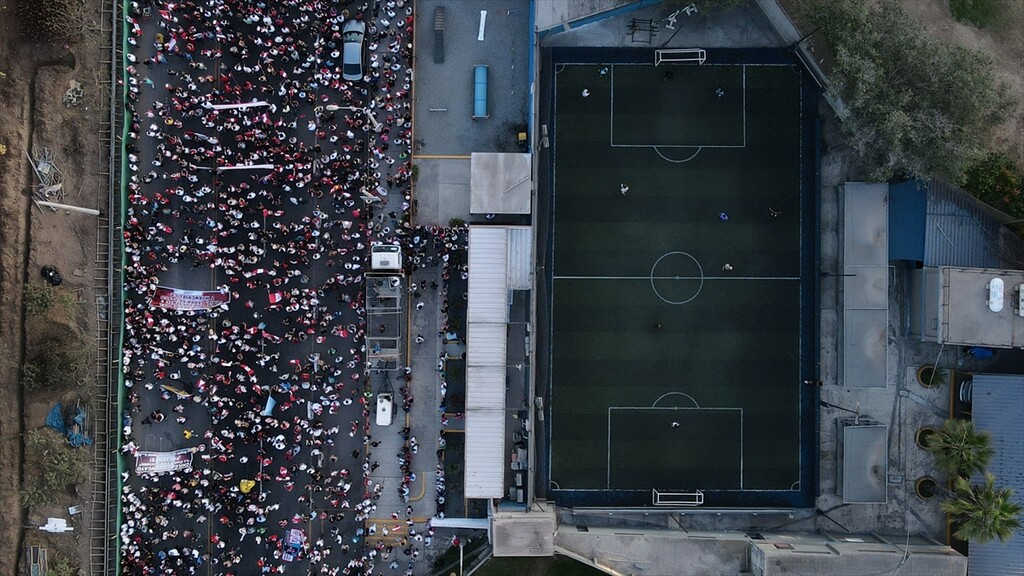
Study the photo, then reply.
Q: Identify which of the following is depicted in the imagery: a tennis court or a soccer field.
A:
soccer field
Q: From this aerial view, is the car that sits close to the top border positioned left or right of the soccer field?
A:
left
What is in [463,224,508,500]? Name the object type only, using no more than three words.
building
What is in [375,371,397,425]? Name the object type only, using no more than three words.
trailer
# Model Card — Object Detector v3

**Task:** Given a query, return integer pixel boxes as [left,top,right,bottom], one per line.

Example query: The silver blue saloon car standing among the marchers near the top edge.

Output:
[339,18,368,81]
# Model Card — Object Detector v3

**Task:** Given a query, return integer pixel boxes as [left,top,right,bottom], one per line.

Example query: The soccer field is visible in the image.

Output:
[544,48,823,508]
